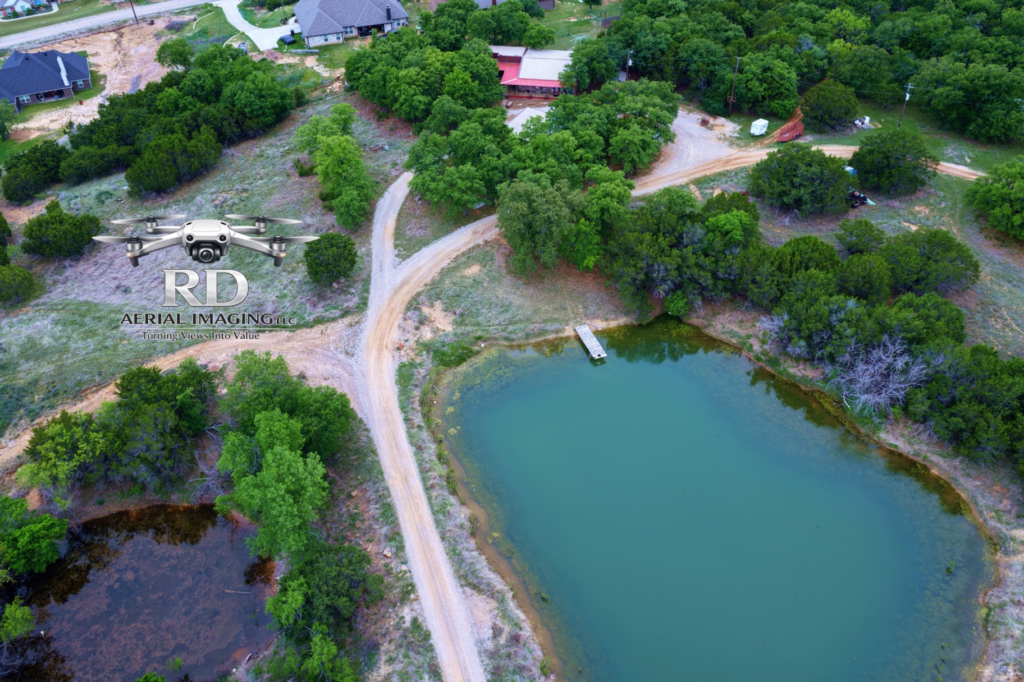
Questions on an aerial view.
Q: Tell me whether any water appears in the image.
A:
Yes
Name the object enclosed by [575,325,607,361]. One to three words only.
pier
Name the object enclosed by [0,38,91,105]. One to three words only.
house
